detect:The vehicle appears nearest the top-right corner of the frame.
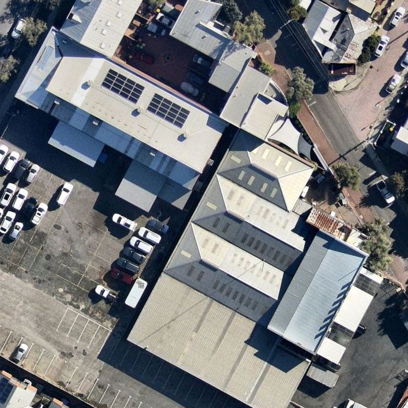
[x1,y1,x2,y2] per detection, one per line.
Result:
[390,5,406,27]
